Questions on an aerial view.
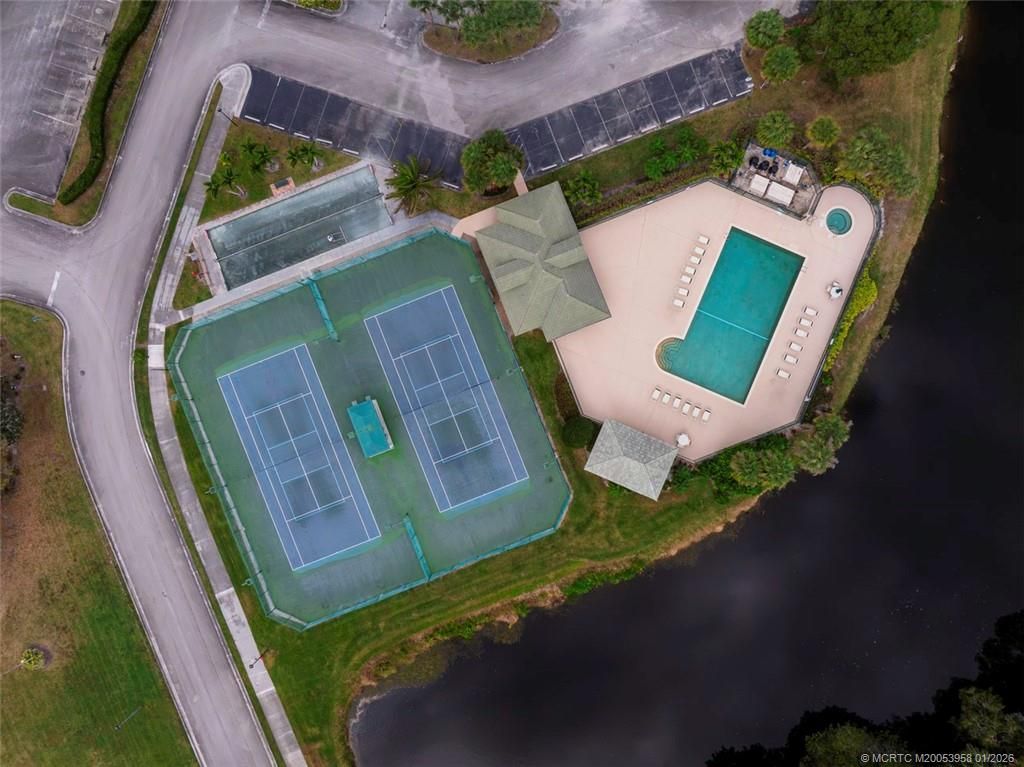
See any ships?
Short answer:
No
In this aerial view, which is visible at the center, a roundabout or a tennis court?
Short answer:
tennis court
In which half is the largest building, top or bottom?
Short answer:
top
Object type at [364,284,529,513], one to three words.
tennis court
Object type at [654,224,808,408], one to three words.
swimming pool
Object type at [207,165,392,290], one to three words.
sports court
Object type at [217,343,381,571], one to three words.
tennis court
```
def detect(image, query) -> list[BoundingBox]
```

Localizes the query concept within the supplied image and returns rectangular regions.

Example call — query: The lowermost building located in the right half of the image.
[584,418,679,501]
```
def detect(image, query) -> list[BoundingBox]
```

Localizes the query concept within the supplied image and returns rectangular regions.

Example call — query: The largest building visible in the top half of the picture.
[474,181,611,341]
